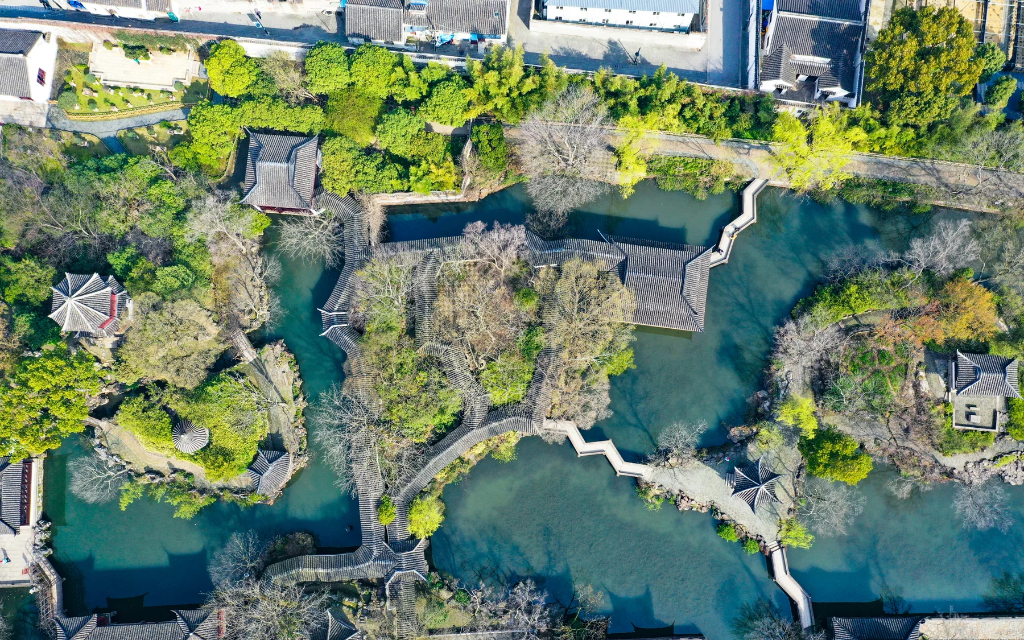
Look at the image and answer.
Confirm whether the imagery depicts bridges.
Yes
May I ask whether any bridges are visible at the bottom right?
Yes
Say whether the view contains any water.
Yes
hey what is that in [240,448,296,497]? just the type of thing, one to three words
building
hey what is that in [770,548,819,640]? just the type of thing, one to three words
bridge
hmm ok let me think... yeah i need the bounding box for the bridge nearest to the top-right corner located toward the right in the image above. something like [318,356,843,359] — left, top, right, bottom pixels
[712,173,768,266]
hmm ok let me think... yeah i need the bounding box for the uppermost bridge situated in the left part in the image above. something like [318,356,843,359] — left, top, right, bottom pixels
[228,327,260,366]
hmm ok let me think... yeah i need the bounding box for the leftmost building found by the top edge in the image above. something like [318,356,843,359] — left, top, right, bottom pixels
[0,29,54,105]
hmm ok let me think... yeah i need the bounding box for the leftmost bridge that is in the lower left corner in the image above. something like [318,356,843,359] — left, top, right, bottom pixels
[34,553,72,617]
